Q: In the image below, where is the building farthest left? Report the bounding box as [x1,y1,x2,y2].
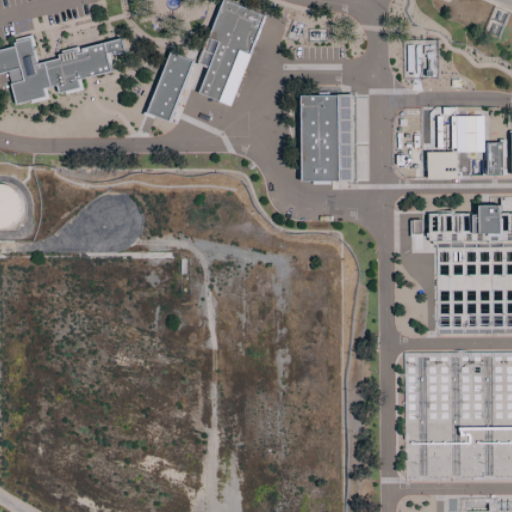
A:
[0,34,124,104]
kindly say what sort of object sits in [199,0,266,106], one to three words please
building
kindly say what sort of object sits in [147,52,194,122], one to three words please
building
